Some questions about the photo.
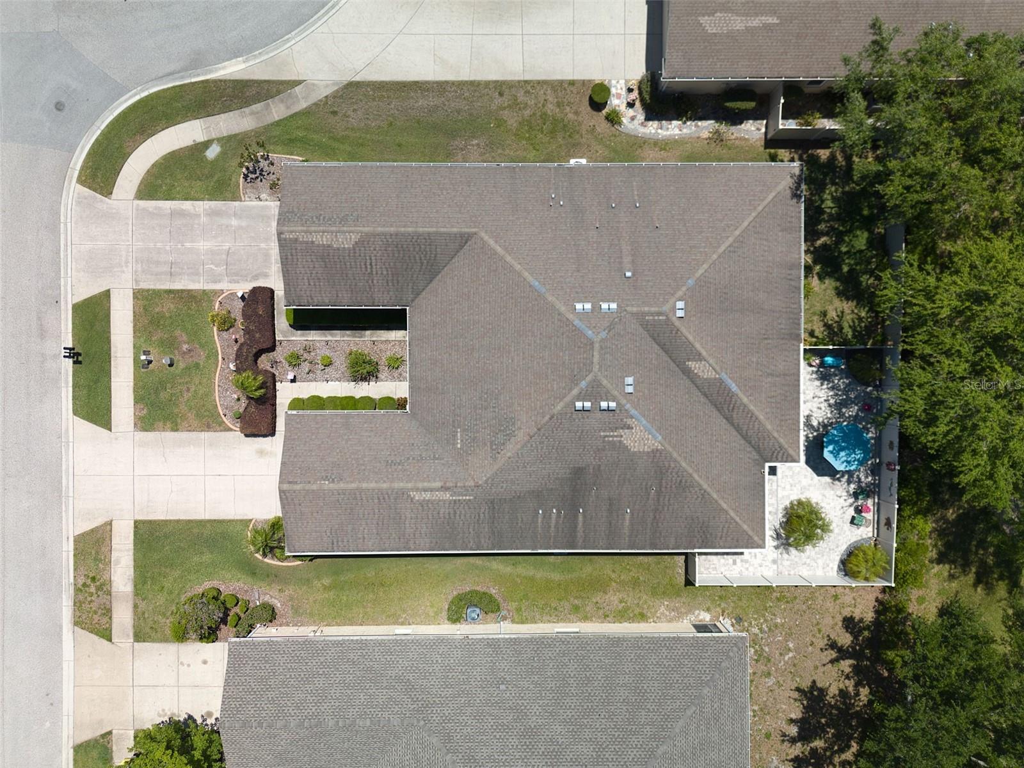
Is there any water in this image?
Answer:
No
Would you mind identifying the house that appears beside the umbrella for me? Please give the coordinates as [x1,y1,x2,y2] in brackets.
[274,161,805,555]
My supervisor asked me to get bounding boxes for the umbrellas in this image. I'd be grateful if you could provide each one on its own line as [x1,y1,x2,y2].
[822,423,871,471]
